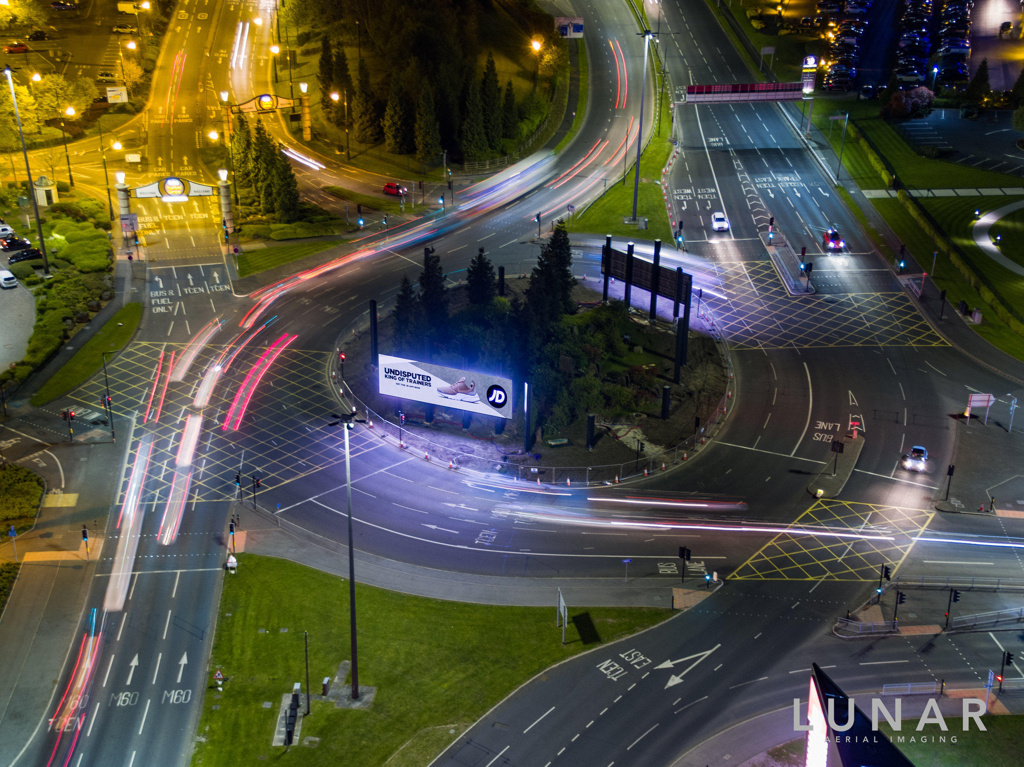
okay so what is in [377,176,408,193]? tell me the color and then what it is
red car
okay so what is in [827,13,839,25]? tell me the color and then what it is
black vehicle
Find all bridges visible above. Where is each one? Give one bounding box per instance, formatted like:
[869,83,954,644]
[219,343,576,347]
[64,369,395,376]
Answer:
[667,81,817,139]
